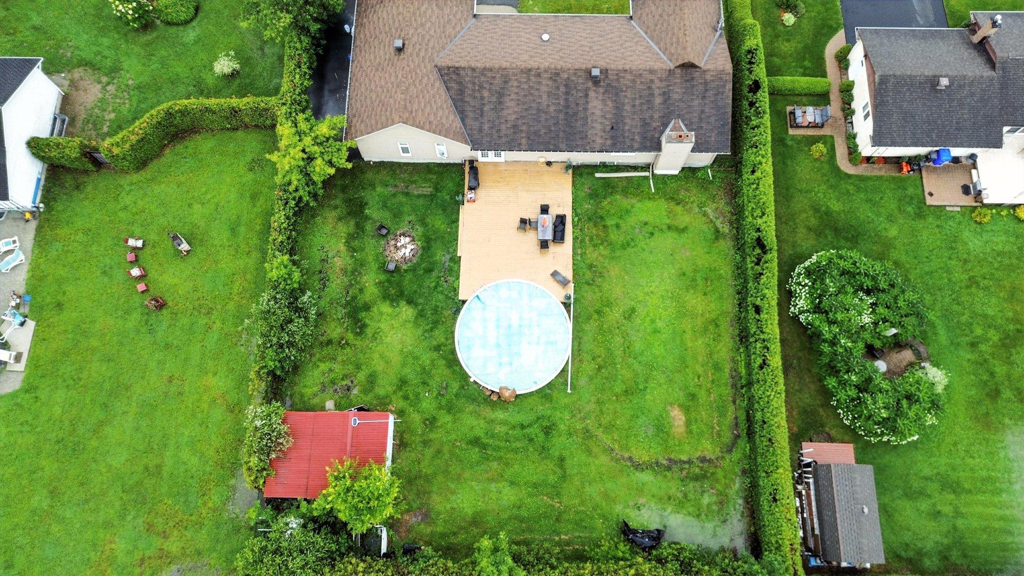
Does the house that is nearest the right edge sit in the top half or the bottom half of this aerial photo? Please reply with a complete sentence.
Seen from above, the house that is nearest the right edge lies in the top half of the view.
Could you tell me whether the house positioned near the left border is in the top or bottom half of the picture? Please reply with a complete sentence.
The house positioned near the left border is in the top half of the image.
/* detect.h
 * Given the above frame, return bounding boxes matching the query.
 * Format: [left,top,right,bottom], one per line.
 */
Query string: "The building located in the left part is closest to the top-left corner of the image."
[0,56,63,206]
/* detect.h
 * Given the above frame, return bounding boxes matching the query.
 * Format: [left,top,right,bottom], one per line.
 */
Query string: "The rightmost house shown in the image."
[848,3,1024,156]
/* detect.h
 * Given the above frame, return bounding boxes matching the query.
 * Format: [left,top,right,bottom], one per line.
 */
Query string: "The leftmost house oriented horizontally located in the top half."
[343,0,733,192]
